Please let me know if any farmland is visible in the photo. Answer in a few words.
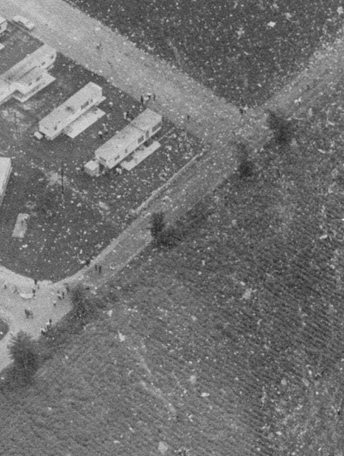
Yes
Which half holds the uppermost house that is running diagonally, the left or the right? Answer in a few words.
left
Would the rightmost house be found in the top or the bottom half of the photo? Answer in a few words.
top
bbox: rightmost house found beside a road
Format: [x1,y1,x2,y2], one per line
[95,108,163,169]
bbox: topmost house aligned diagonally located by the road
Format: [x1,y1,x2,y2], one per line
[0,43,57,103]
